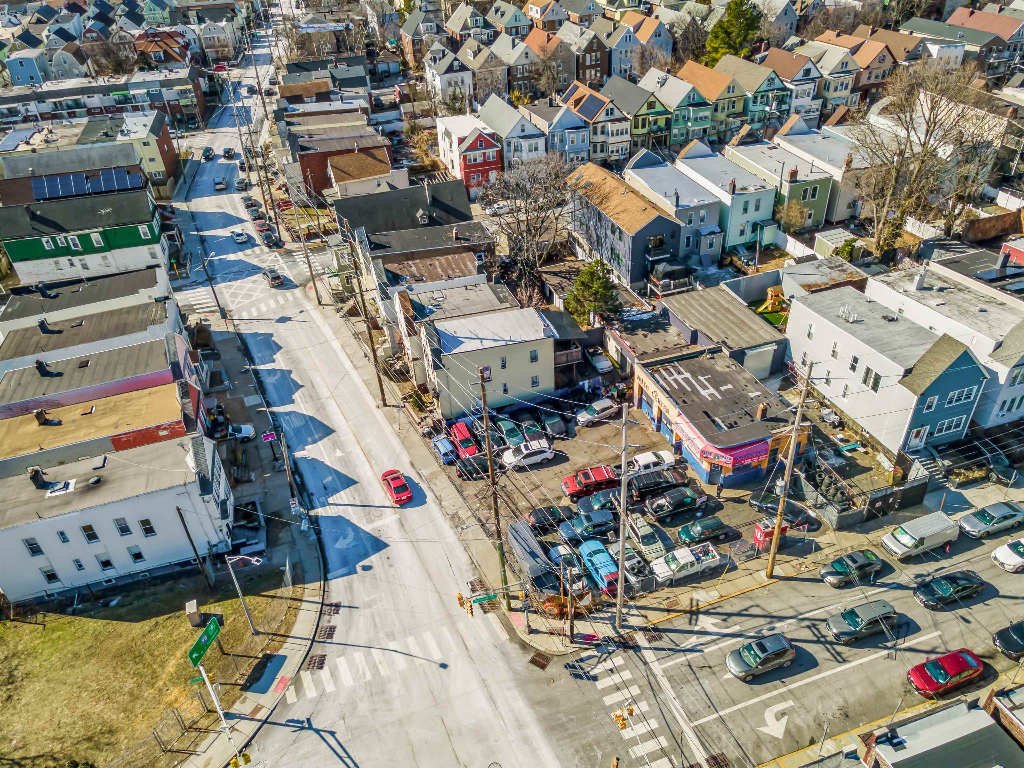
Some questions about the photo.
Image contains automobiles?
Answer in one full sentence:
Yes, the image includes an automobile.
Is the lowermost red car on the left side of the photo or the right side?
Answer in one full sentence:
The lowermost red car sits on the right side.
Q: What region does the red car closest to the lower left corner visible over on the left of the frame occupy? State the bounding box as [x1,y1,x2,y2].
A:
[379,468,418,510]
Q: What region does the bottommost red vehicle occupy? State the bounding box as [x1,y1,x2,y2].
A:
[902,645,988,703]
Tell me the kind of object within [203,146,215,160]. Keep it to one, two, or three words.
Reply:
vehicle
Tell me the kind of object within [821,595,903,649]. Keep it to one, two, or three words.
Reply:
car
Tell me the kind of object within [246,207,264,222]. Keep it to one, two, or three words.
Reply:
car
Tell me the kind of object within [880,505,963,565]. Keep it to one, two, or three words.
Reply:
van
